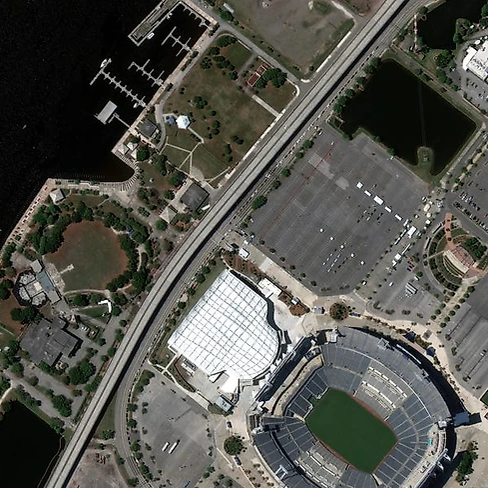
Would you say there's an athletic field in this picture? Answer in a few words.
Yes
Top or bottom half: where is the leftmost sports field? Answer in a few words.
bottom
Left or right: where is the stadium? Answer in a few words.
right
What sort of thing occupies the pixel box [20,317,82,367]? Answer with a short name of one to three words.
building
